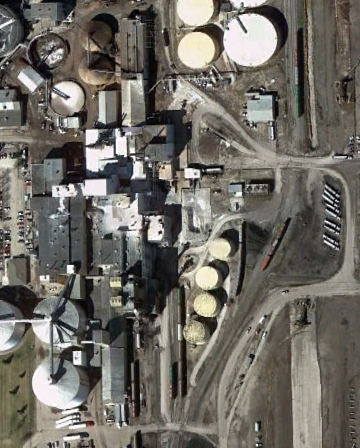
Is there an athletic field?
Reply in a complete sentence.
No, I can see no athletic field in this picture.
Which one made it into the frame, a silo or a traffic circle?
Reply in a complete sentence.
I can see a silo in this picture.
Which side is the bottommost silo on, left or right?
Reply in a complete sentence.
The bottommost silo sits on the left side.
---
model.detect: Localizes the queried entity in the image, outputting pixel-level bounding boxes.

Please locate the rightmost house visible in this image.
[247,94,274,121]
